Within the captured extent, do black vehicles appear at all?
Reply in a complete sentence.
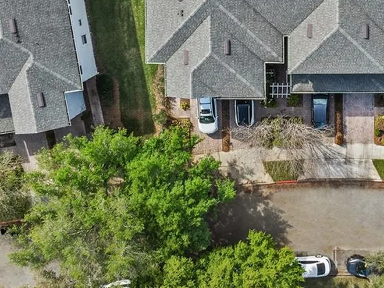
Yes, this view includes a black vehicle.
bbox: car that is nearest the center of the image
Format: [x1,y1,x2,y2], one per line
[195,100,223,134]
